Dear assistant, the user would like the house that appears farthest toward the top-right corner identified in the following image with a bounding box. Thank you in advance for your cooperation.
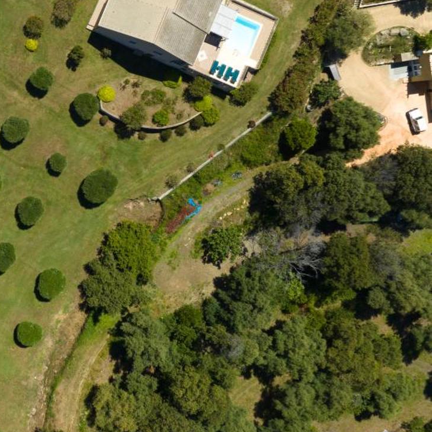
[396,51,432,96]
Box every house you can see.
[396,51,432,96]
[75,0,221,69]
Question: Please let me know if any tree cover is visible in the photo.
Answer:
Yes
